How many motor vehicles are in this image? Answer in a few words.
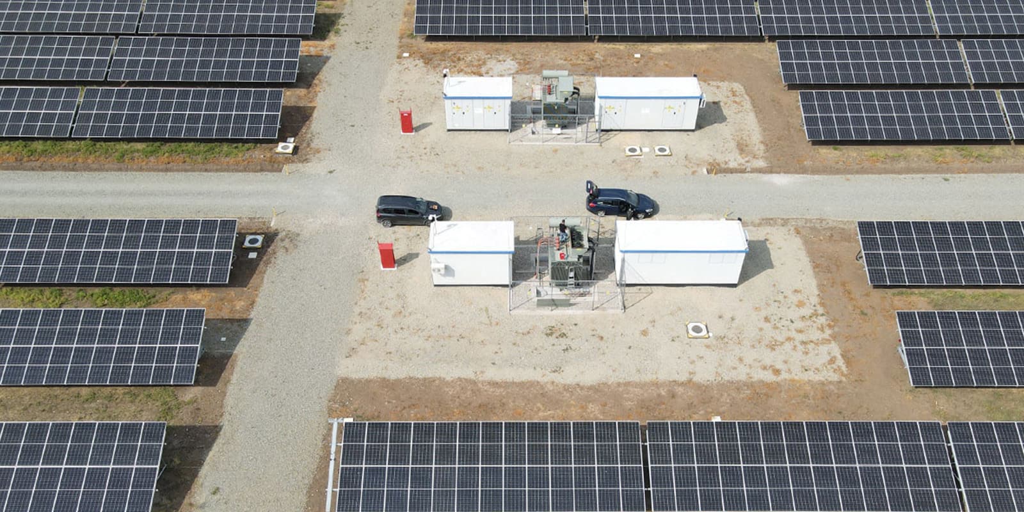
2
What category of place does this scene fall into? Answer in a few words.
solar farm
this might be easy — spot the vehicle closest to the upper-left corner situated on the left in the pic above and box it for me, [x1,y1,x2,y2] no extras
[375,192,444,227]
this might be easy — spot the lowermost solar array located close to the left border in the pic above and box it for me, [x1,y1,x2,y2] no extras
[0,422,168,512]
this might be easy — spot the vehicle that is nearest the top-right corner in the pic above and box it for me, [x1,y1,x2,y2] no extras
[583,181,655,219]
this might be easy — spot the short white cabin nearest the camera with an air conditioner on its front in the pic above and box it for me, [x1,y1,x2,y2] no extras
[427,219,516,285]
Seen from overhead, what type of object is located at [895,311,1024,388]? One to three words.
solar array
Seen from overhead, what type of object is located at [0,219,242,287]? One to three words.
solar array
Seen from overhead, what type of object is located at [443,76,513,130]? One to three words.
building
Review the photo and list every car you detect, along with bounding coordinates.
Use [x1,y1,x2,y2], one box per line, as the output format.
[375,192,444,227]
[583,181,655,219]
